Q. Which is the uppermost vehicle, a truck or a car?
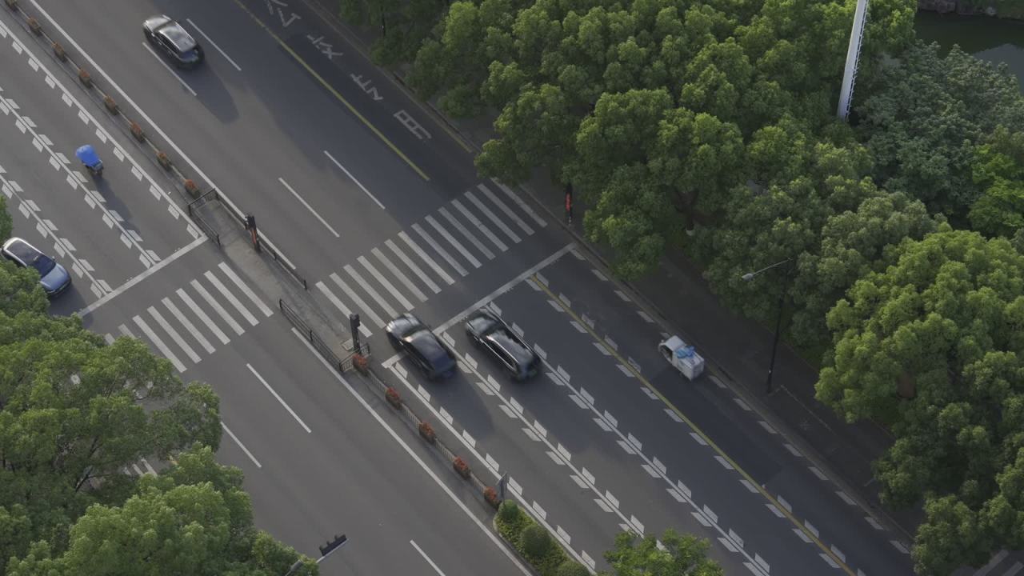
car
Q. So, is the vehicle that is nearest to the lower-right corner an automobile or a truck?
truck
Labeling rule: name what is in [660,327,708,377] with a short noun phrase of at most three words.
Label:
truck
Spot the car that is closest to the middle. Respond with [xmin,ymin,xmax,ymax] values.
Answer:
[463,306,538,377]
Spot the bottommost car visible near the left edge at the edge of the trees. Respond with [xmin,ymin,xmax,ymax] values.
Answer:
[0,238,69,296]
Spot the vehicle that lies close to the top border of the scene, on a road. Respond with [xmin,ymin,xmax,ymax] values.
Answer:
[142,7,202,61]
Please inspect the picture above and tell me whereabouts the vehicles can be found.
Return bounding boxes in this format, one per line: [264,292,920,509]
[142,7,202,61]
[0,238,69,296]
[660,327,708,377]
[75,145,104,181]
[382,309,455,378]
[463,306,538,377]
